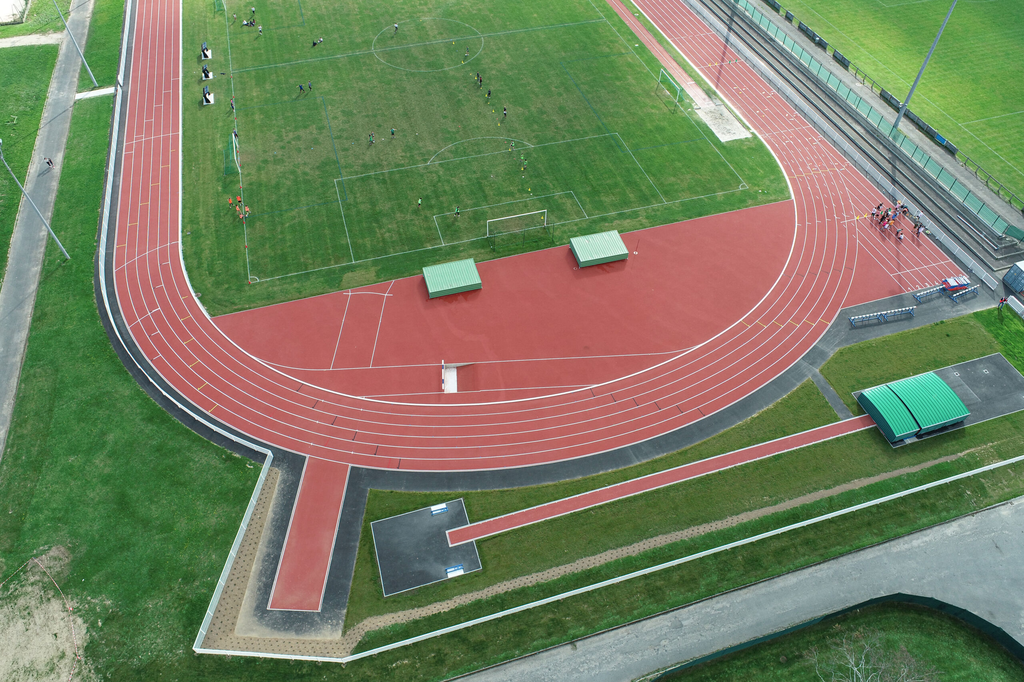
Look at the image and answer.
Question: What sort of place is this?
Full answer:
This image shows a sports ground.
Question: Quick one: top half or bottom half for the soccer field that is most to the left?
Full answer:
The soccer field that is most to the left is in the top half of the image.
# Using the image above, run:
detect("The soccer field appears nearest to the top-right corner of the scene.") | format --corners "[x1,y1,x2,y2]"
[769,0,1024,211]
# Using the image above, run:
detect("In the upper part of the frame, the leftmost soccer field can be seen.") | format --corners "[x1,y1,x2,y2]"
[179,0,793,318]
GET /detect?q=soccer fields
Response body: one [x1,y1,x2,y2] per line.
[179,0,793,318]
[769,0,1024,211]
